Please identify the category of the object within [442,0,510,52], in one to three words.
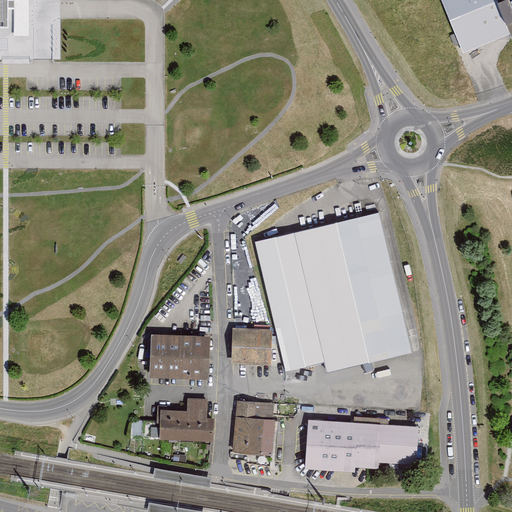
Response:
shed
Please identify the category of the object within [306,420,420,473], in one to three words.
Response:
building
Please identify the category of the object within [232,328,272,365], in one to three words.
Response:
barn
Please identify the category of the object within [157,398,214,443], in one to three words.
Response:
house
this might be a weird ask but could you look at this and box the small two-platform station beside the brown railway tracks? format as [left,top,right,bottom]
[11,451,377,512]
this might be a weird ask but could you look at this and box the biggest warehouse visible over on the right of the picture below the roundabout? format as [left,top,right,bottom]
[256,213,412,372]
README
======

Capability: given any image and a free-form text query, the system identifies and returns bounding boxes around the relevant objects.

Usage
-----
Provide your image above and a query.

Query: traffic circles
[376,108,445,176]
